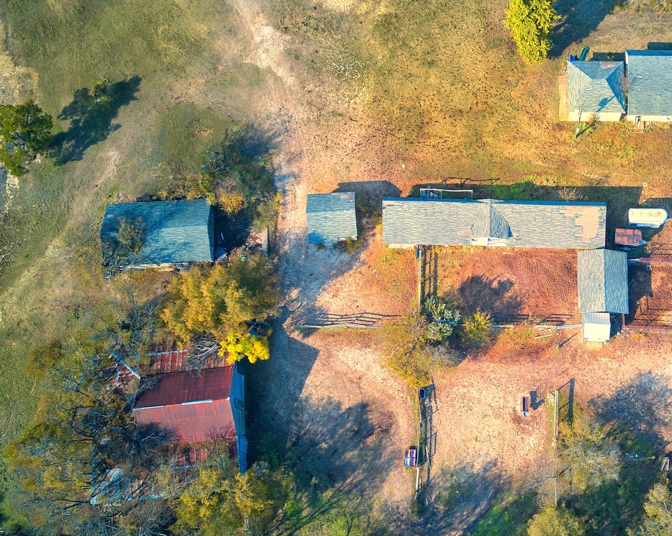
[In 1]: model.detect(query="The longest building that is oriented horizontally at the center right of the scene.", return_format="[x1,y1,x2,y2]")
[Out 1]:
[381,195,606,257]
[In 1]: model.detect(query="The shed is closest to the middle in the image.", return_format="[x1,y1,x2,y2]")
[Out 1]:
[307,191,358,248]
